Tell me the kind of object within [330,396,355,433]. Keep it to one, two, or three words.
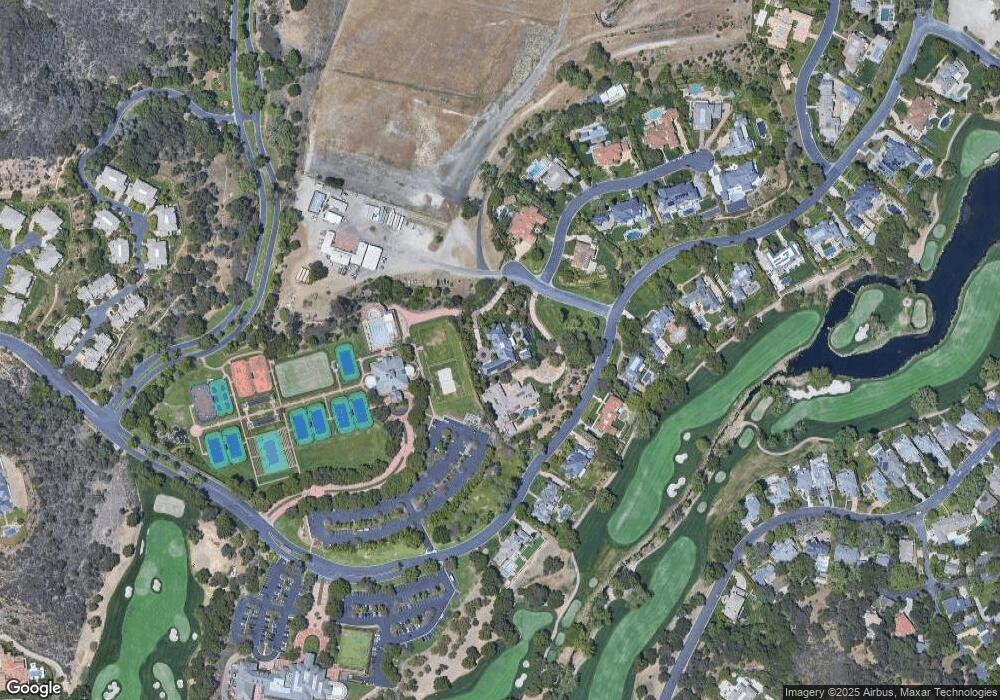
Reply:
tennis court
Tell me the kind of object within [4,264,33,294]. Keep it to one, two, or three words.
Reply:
building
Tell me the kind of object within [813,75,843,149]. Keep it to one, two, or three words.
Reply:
house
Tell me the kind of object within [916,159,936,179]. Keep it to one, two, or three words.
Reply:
swimming pool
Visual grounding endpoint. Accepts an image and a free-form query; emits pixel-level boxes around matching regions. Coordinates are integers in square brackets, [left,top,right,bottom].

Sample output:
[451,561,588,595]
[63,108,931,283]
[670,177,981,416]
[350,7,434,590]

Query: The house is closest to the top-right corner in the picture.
[929,54,969,102]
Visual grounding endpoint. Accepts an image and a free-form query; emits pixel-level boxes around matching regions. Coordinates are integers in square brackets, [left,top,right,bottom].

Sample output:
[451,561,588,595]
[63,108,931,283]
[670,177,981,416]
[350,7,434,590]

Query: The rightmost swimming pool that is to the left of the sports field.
[365,315,398,355]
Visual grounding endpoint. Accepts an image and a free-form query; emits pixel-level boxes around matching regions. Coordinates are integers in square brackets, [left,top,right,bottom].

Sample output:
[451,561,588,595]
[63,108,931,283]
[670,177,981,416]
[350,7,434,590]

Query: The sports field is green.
[412,318,483,419]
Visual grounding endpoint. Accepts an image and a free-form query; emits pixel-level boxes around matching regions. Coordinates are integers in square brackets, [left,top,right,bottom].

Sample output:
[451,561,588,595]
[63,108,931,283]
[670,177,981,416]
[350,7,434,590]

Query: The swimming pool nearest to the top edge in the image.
[878,3,895,27]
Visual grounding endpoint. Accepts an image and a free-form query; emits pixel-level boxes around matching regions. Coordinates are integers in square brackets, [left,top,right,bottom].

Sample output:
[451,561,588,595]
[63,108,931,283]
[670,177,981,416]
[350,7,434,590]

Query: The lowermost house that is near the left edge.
[0,651,32,691]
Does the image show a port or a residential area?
residential area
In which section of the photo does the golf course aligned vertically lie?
bottom left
